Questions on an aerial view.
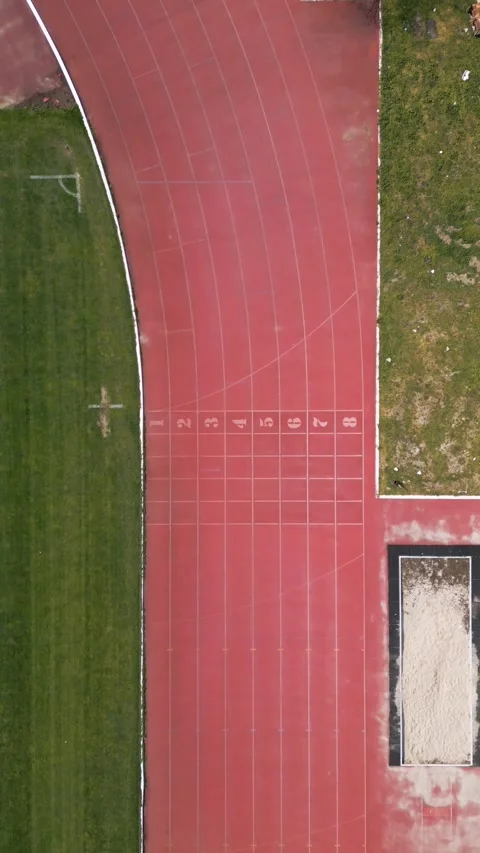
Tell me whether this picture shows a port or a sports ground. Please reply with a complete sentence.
This image shows a sports ground.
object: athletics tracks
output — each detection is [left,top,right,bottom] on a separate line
[31,0,380,853]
